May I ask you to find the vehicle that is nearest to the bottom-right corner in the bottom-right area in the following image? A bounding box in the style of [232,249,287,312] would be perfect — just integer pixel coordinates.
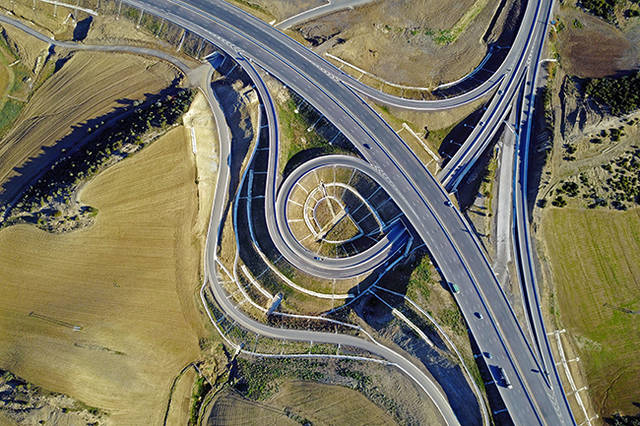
[501,368,514,388]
